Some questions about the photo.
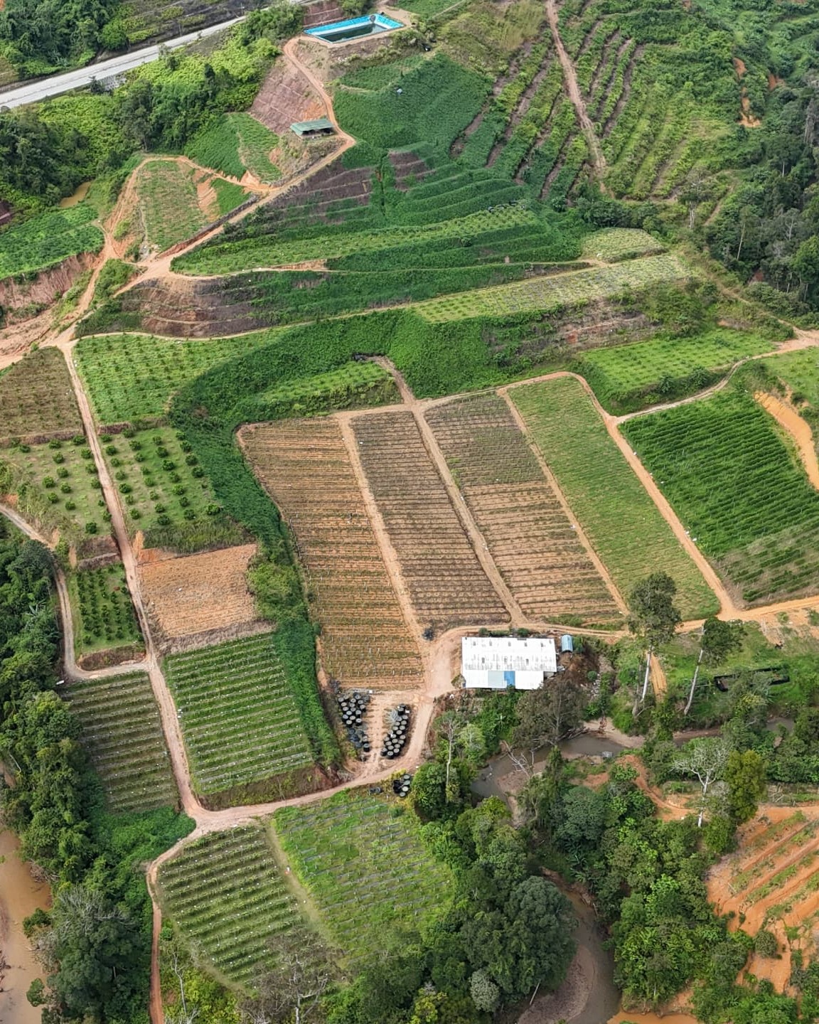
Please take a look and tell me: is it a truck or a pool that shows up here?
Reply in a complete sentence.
Looking from above, you can make out a pool.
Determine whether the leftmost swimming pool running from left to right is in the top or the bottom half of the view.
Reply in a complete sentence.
The top half of the photo is where the leftmost swimming pool running from left to right is.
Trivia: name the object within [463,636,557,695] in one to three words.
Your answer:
shed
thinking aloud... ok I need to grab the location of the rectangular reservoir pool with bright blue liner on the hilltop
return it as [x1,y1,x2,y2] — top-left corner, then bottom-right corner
[304,14,404,43]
